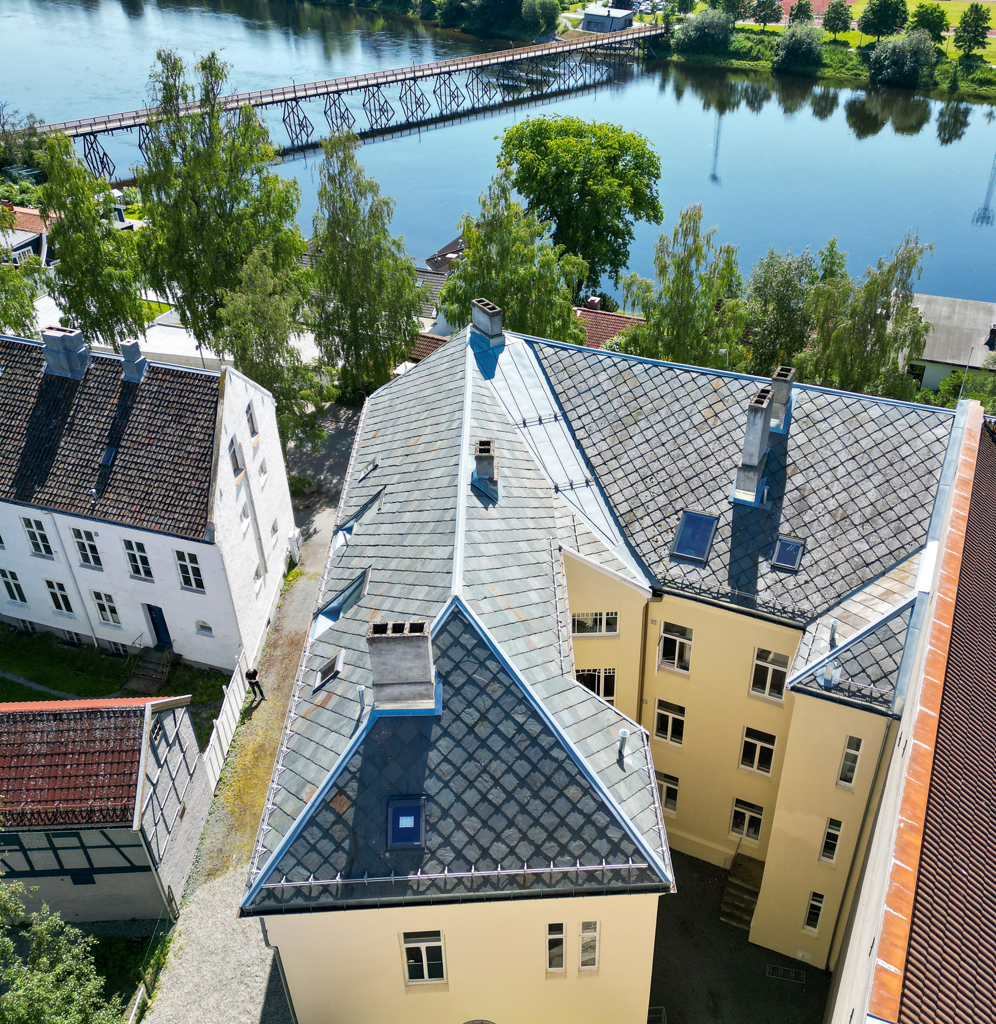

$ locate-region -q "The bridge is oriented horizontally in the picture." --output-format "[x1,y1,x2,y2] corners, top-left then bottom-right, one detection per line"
[0,24,665,168]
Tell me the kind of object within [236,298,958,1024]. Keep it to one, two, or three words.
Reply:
building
